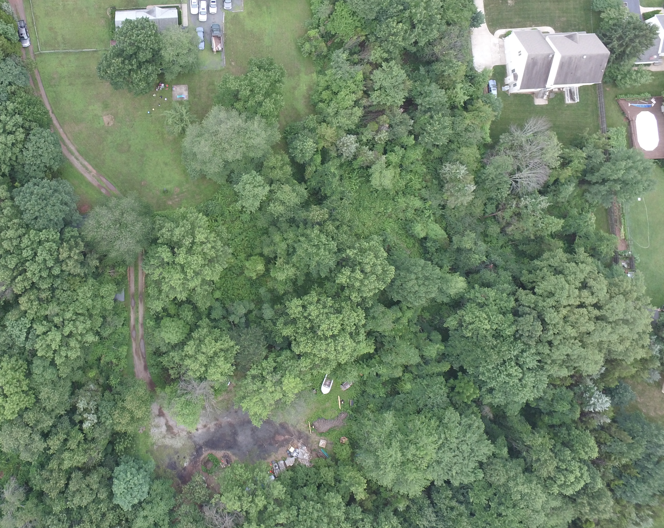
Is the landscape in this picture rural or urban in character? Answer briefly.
rural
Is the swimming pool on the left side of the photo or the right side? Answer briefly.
right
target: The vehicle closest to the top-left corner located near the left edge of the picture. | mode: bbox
[17,20,30,46]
